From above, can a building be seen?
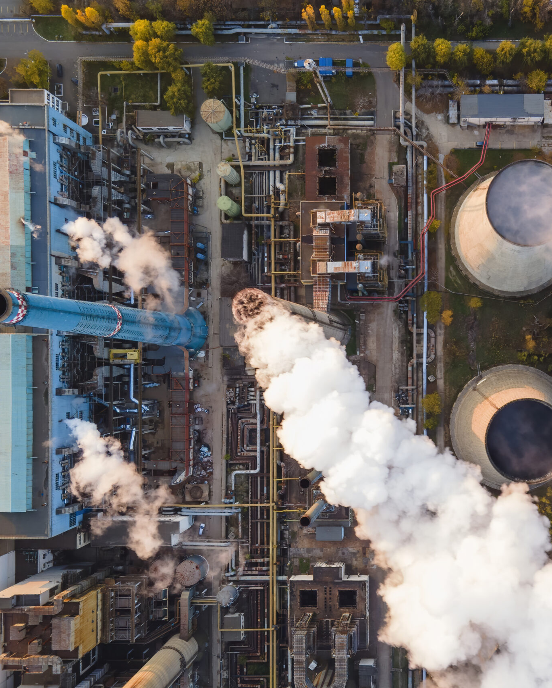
Yes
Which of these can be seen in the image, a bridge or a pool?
bridge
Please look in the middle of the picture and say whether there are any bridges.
No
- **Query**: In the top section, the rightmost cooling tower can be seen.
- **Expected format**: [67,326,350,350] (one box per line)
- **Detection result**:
[450,160,552,298]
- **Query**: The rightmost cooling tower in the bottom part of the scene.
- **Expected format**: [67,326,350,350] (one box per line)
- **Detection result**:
[449,364,552,493]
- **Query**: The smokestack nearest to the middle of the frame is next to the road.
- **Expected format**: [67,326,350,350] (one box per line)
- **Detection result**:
[231,291,354,351]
